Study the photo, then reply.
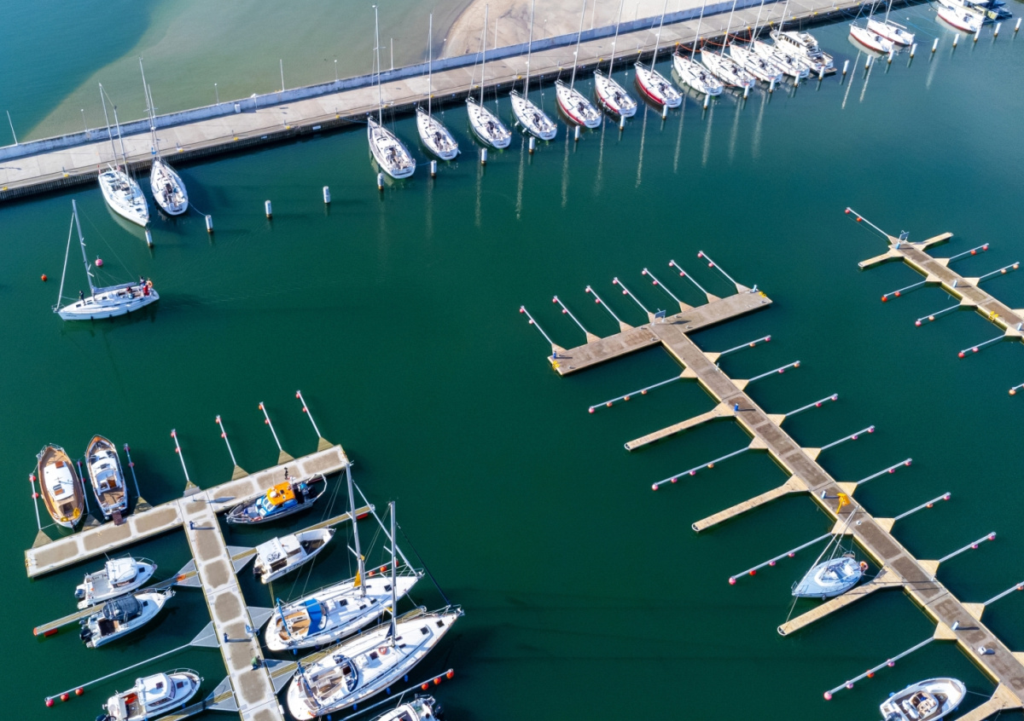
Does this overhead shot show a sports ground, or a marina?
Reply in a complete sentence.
This looks like a marina.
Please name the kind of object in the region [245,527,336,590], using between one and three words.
boat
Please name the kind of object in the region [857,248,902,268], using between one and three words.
pier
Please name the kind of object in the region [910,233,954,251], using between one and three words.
pier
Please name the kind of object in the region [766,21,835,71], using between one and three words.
boat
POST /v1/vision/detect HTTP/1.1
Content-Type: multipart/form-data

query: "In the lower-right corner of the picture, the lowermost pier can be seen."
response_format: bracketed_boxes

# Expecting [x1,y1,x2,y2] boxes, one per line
[949,680,1019,721]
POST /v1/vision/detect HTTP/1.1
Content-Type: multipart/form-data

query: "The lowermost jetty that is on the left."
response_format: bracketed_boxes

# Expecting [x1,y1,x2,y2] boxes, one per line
[159,677,239,721]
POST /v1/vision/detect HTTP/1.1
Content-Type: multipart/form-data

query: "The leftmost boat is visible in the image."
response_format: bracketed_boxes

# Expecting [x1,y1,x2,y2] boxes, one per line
[35,443,85,534]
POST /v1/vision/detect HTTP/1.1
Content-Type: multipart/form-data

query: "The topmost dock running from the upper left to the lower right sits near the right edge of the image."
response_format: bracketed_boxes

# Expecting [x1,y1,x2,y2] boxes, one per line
[886,240,1024,345]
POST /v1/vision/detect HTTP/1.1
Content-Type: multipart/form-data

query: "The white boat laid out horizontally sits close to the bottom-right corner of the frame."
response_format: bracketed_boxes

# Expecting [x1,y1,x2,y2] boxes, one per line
[876,682,965,721]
